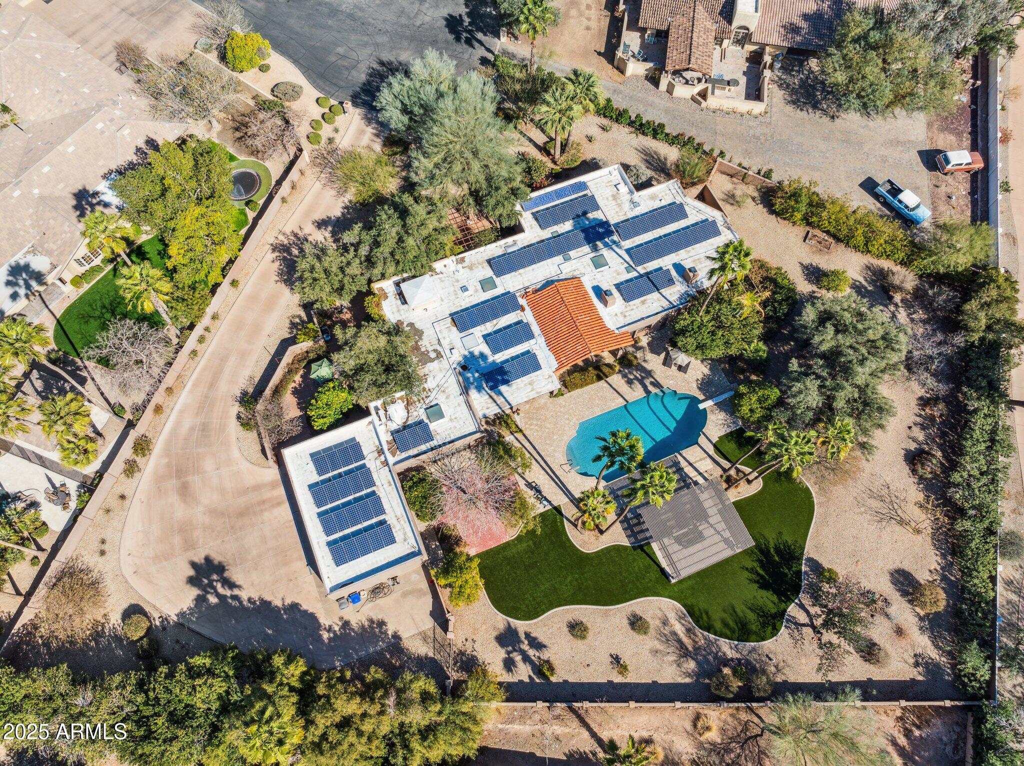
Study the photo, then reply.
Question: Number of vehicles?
2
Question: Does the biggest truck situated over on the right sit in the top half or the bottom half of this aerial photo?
top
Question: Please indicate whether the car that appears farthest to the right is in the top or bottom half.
top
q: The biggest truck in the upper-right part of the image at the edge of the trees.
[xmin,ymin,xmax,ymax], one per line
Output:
[875,182,928,229]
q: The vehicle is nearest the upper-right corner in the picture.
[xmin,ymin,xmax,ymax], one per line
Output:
[939,152,983,177]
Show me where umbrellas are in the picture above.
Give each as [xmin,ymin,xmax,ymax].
[309,360,335,380]
[666,346,690,368]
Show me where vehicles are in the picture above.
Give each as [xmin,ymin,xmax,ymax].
[875,182,928,229]
[939,152,983,177]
